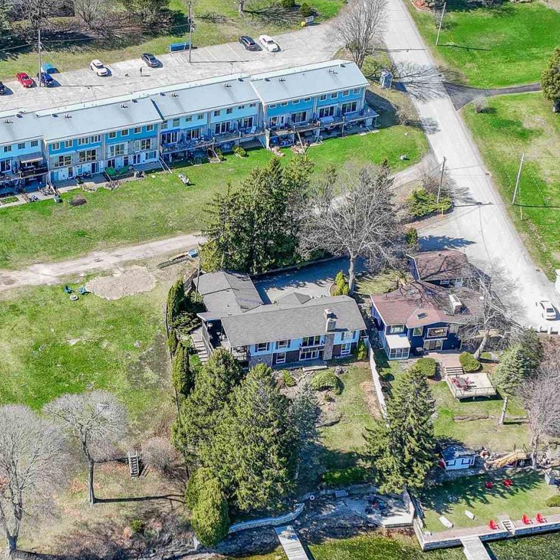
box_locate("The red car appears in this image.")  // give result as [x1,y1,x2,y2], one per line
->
[13,71,35,86]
